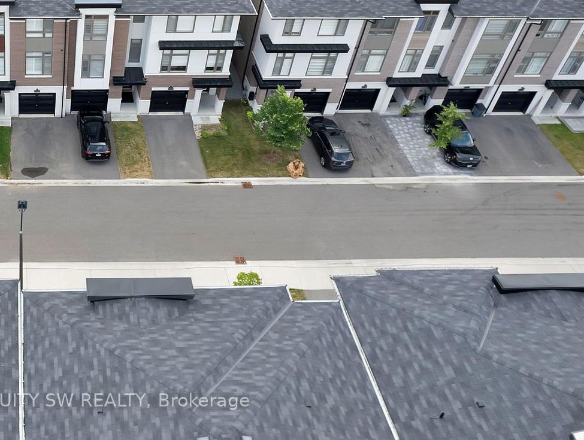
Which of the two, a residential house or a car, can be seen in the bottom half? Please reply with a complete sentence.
There is a residential house in the bottom half.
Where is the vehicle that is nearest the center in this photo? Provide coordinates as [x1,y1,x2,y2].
[305,113,354,165]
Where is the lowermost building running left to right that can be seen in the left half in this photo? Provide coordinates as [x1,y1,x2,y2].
[19,276,395,440]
